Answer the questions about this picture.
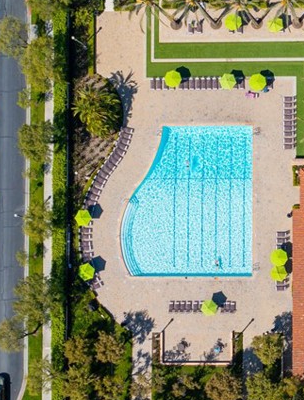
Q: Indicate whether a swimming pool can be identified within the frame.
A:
Yes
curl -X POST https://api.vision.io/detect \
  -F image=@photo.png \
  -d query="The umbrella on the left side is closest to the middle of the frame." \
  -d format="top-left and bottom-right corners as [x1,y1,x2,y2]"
[76,210,92,227]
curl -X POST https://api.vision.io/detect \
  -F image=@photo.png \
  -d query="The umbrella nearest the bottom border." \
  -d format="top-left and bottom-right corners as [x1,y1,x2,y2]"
[202,300,219,316]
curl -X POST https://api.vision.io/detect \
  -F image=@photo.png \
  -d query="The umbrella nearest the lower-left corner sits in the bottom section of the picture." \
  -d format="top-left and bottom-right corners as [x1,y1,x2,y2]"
[79,262,96,279]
